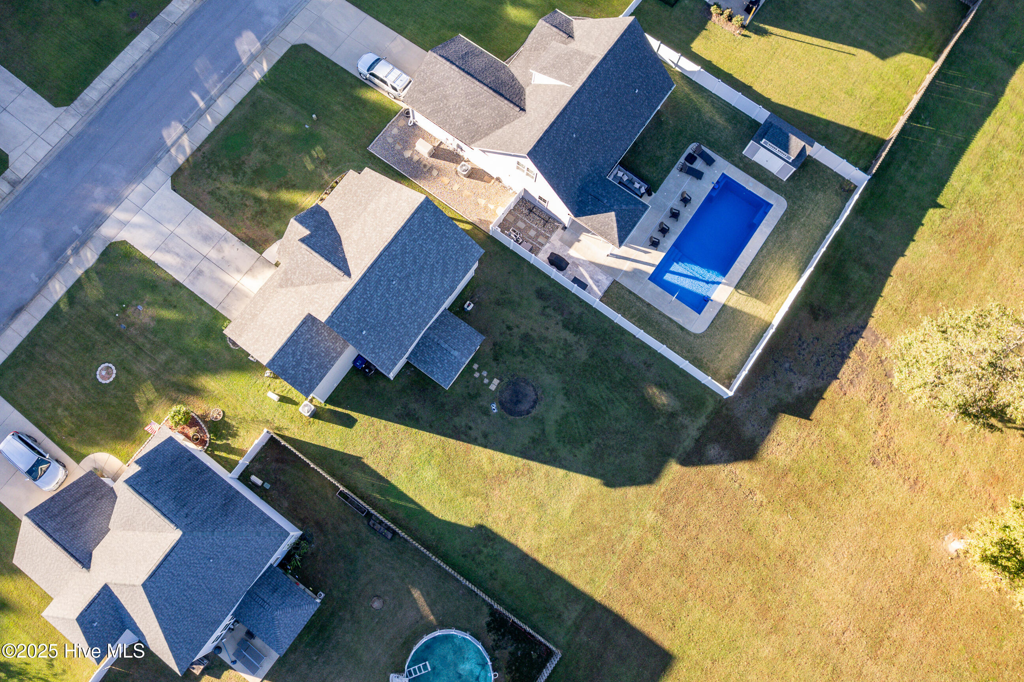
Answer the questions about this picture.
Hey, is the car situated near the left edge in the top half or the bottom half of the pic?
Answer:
bottom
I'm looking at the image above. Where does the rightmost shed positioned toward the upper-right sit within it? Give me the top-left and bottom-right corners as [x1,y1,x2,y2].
[743,113,815,180]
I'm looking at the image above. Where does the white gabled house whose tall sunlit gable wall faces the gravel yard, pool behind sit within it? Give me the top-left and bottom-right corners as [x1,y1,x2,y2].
[400,8,677,256]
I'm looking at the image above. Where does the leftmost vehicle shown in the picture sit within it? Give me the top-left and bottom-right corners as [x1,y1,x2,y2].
[0,432,70,494]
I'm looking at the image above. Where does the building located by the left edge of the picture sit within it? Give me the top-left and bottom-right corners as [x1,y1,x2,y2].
[12,425,321,682]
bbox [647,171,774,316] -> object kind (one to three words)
swimming pool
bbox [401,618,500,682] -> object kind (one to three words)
swimming pool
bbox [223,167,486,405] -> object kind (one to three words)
house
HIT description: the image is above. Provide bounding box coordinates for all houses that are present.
[400,8,677,256]
[12,425,321,682]
[223,167,486,405]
